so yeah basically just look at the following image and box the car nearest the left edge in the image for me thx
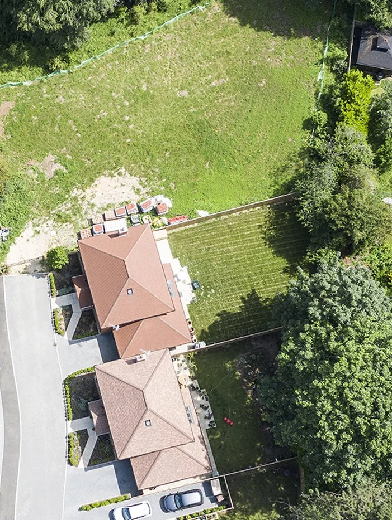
[111,499,153,520]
